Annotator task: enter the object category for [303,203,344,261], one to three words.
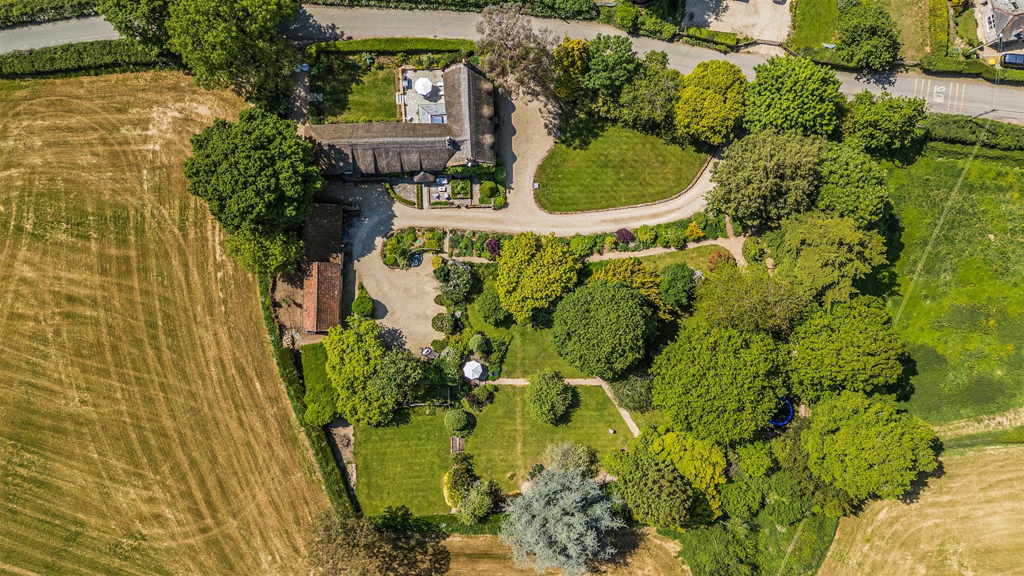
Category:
barn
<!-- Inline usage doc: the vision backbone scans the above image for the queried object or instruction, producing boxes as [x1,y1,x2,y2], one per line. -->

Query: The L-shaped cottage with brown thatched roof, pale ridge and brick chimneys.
[305,61,504,184]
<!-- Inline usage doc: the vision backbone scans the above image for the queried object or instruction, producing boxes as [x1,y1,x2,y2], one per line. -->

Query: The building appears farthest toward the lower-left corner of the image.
[303,261,343,333]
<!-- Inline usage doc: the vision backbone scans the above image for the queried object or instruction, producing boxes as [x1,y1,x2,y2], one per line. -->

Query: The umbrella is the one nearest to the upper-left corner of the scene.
[415,78,434,97]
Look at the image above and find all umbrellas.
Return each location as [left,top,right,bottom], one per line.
[464,359,482,378]
[415,78,434,97]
